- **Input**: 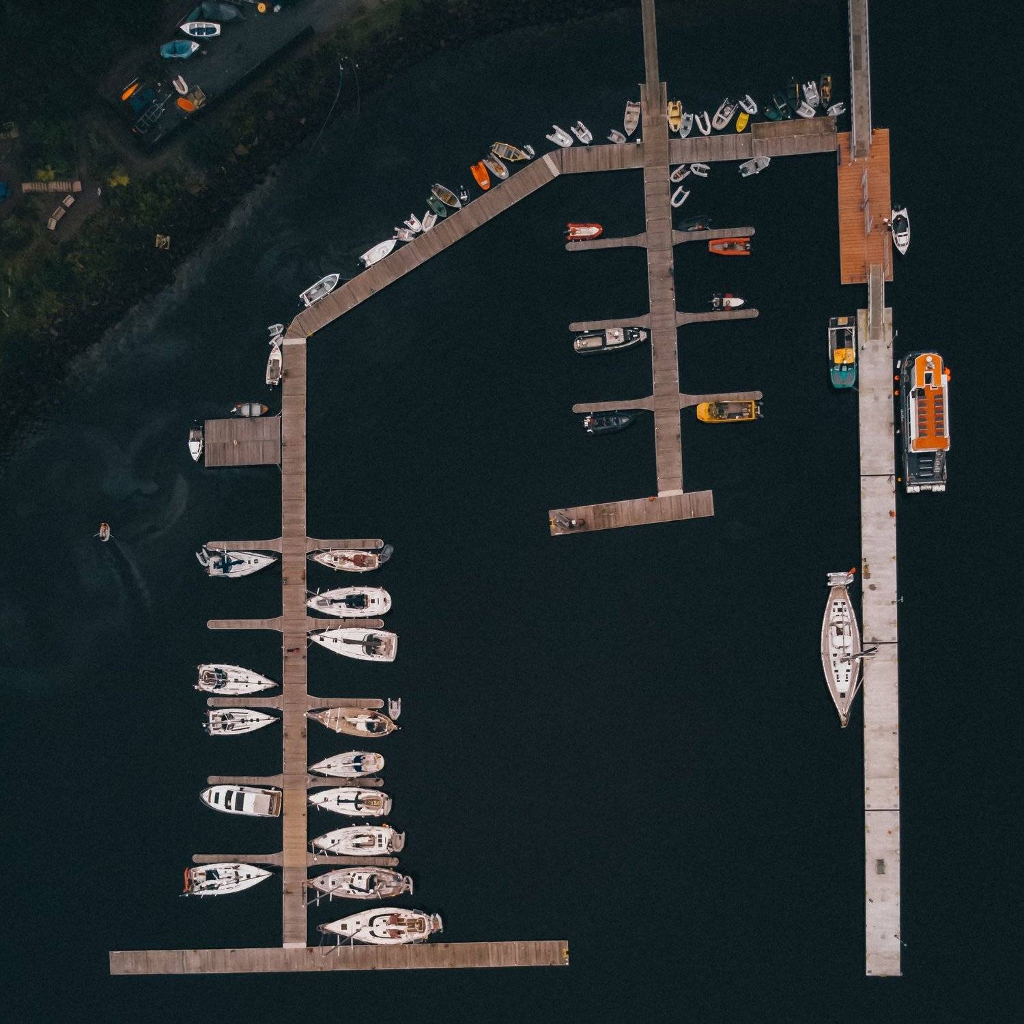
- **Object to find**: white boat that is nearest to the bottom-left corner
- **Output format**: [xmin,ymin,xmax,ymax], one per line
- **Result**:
[189,861,284,898]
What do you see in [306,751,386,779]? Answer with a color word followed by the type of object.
white boat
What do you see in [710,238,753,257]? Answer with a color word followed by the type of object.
red boat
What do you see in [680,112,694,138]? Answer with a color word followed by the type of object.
gray boat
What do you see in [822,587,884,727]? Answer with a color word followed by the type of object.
white boat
